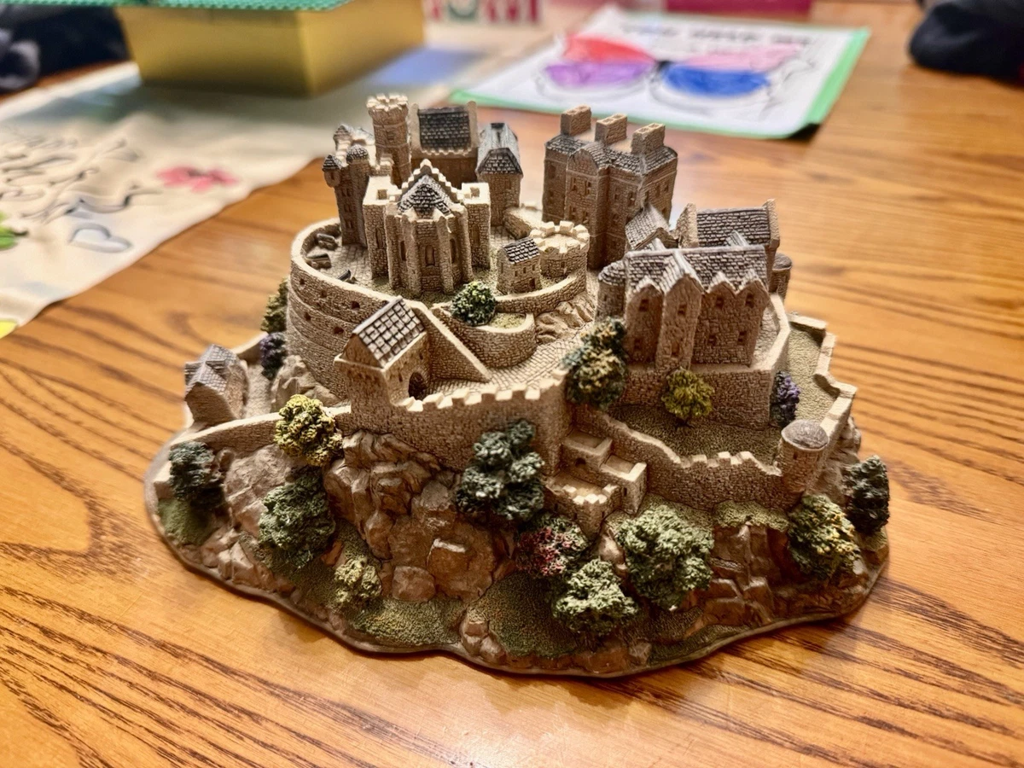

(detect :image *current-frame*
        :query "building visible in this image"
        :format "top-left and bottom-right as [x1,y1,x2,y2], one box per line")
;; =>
[144,87,899,677]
